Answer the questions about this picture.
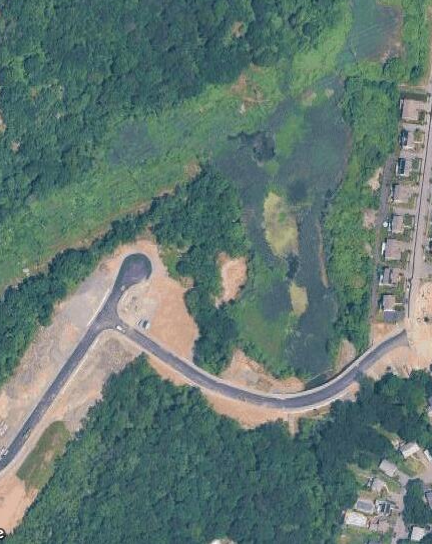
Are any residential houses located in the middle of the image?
No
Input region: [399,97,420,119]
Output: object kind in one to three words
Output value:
house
